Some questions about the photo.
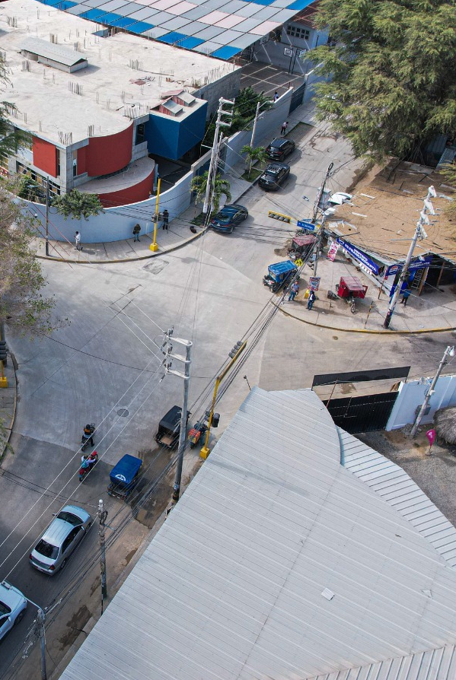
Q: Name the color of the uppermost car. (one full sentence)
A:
The uppermost car looks black in the image.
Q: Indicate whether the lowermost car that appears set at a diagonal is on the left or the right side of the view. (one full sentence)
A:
It is on the left.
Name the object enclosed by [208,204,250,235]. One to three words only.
car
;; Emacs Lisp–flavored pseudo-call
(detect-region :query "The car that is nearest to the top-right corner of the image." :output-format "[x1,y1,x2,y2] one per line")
[263,137,298,162]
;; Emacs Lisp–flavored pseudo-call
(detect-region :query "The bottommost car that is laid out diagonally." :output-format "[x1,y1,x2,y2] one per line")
[26,506,92,575]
